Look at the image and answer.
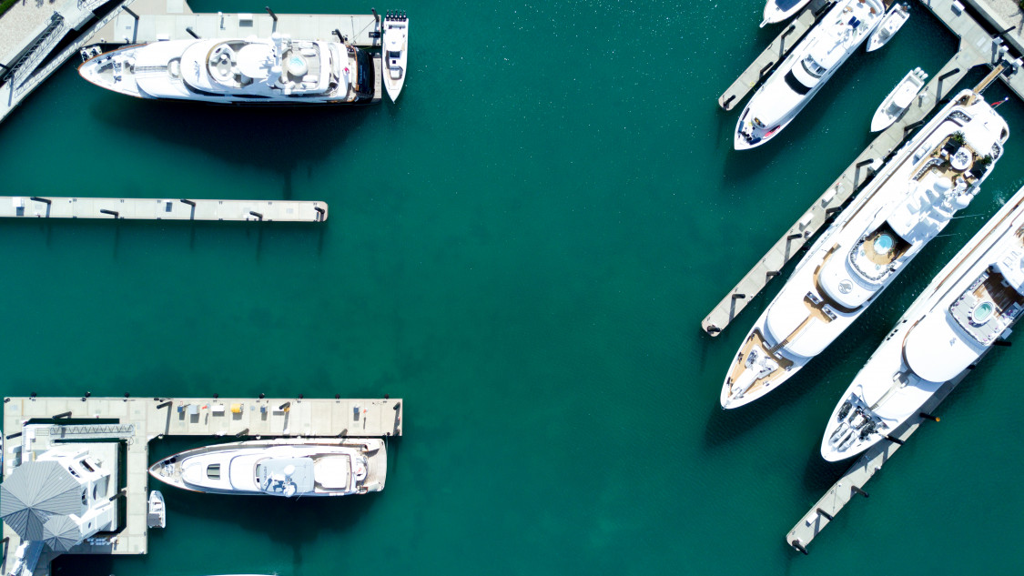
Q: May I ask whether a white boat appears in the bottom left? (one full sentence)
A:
Yes, in the bottom left there is a white boat.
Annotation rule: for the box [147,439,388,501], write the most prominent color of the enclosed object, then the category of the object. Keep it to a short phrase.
white boat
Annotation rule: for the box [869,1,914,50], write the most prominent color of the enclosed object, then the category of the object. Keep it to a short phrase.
white boat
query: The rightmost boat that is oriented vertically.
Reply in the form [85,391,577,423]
[380,12,407,98]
